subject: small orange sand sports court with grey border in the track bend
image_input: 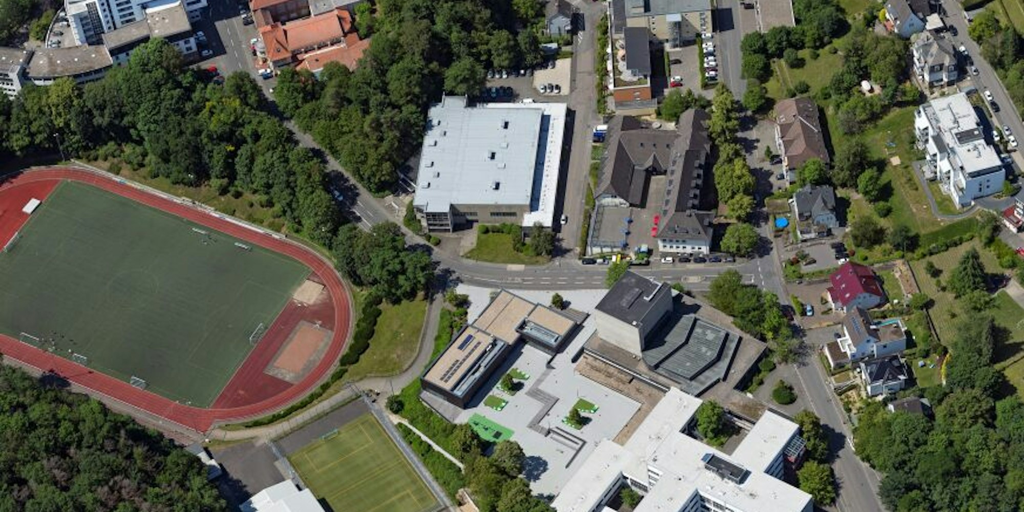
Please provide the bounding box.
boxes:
[263,320,334,386]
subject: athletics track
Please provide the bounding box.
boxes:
[0,159,360,436]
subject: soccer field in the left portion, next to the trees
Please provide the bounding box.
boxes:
[0,176,313,408]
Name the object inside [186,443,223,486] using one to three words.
shed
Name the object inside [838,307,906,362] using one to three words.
house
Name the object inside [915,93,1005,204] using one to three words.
house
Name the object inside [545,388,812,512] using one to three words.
building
